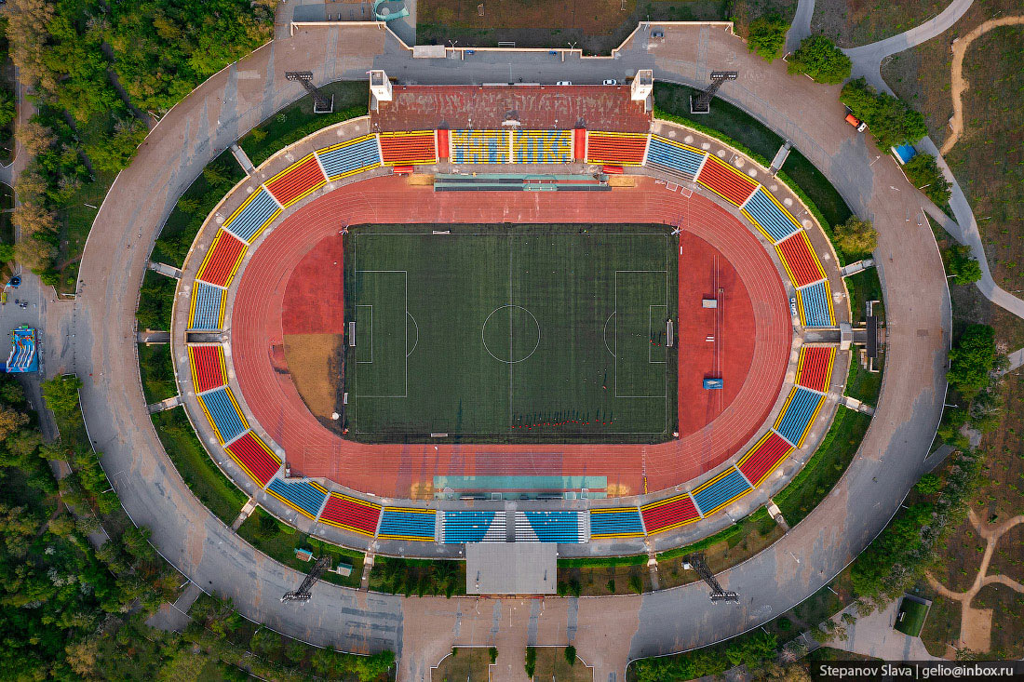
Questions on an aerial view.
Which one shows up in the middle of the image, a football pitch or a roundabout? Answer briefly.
football pitch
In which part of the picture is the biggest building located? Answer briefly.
bottom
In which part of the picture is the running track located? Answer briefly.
center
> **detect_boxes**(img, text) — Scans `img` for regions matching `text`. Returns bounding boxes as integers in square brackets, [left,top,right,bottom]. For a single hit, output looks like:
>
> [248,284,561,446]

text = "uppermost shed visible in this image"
[414,45,445,60]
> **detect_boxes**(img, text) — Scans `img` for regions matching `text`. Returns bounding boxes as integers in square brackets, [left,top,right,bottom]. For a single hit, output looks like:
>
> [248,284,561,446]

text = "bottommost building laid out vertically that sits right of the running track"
[866,300,881,373]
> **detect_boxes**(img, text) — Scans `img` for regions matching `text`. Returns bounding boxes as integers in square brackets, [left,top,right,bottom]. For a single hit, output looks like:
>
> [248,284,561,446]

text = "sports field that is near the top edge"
[416,0,732,49]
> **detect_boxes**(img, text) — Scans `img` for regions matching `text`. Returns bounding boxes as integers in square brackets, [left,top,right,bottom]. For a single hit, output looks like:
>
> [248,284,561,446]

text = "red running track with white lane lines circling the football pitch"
[232,173,792,500]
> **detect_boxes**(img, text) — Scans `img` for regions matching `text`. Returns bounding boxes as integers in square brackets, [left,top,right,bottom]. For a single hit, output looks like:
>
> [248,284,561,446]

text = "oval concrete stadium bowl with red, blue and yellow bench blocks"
[170,115,852,560]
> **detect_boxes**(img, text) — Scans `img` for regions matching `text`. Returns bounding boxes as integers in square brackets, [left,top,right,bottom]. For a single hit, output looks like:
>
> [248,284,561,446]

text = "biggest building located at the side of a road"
[466,540,557,600]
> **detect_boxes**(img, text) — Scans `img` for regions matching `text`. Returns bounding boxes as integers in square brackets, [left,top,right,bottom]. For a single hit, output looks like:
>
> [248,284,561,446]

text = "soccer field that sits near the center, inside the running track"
[344,224,678,444]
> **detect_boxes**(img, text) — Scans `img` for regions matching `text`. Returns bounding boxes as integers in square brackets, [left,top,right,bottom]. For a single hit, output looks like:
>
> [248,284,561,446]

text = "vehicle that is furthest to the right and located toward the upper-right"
[845,110,867,130]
